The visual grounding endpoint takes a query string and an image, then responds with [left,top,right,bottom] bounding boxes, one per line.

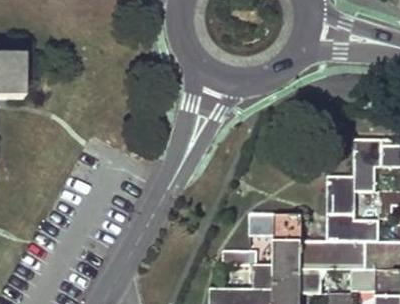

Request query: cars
[0,298,11,304]
[79,153,97,166]
[8,276,28,290]
[84,253,102,267]
[69,274,86,288]
[22,256,40,268]
[108,209,126,223]
[375,30,394,41]
[40,222,59,236]
[36,233,54,248]
[96,232,114,246]
[102,220,120,234]
[15,266,33,280]
[274,60,293,72]
[61,282,80,298]
[122,182,140,197]
[78,263,98,278]
[62,190,80,204]
[28,244,45,258]
[56,202,74,215]
[2,286,22,302]
[50,212,68,226]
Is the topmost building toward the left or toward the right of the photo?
left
